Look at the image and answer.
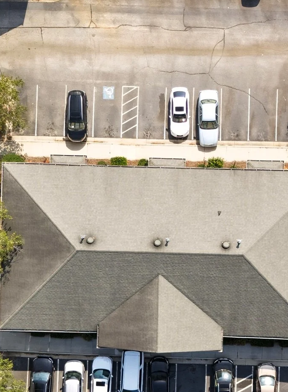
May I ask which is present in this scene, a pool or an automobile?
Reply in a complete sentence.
The one in the frame is an automobile.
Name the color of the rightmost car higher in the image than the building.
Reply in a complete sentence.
In this view, the rightmost car higher in the image than the building is white.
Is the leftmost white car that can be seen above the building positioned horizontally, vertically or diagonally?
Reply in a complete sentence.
What the image shows is the leftmost white car that can be seen above the building lying vertically.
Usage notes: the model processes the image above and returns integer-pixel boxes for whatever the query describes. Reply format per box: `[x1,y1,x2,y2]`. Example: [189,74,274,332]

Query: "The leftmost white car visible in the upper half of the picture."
[168,86,192,138]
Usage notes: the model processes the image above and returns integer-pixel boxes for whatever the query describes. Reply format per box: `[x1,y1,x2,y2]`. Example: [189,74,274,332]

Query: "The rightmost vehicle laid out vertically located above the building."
[197,89,221,147]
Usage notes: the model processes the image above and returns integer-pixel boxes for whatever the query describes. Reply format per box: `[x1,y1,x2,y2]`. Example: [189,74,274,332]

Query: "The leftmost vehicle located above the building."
[63,89,89,143]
